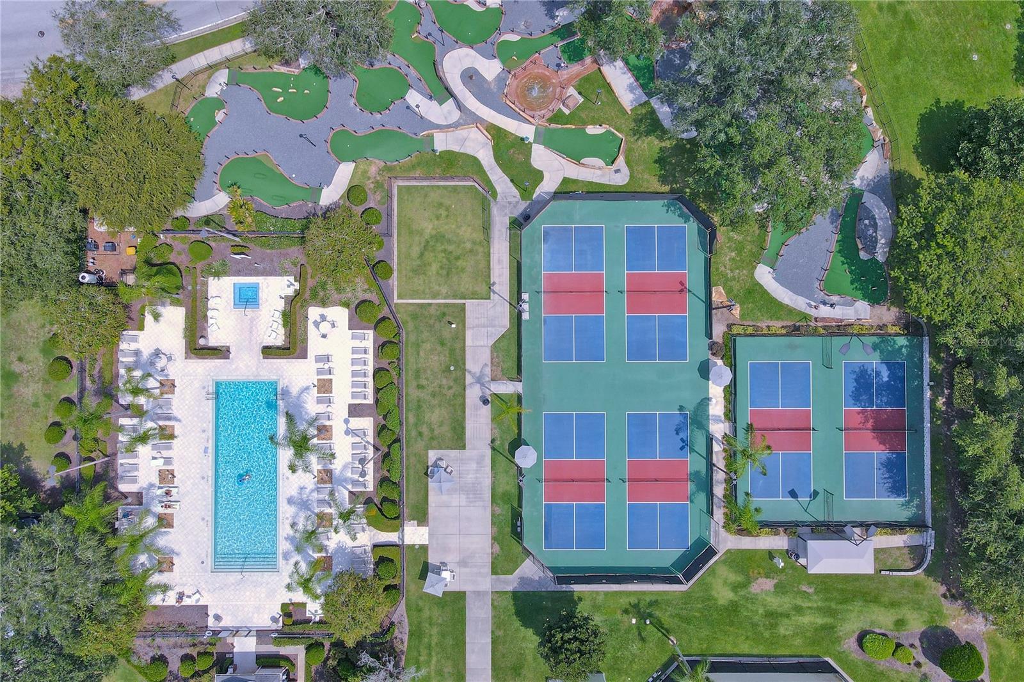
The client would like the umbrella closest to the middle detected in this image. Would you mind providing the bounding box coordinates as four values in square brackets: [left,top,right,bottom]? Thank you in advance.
[515,445,537,467]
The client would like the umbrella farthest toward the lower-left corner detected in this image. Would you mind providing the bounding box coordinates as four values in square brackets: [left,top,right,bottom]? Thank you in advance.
[421,570,449,598]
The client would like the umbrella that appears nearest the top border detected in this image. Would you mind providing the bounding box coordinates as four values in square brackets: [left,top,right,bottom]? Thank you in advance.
[708,364,731,387]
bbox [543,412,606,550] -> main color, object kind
blue sports court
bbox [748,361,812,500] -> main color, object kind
blue sports court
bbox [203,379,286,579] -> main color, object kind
blue swimming pool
